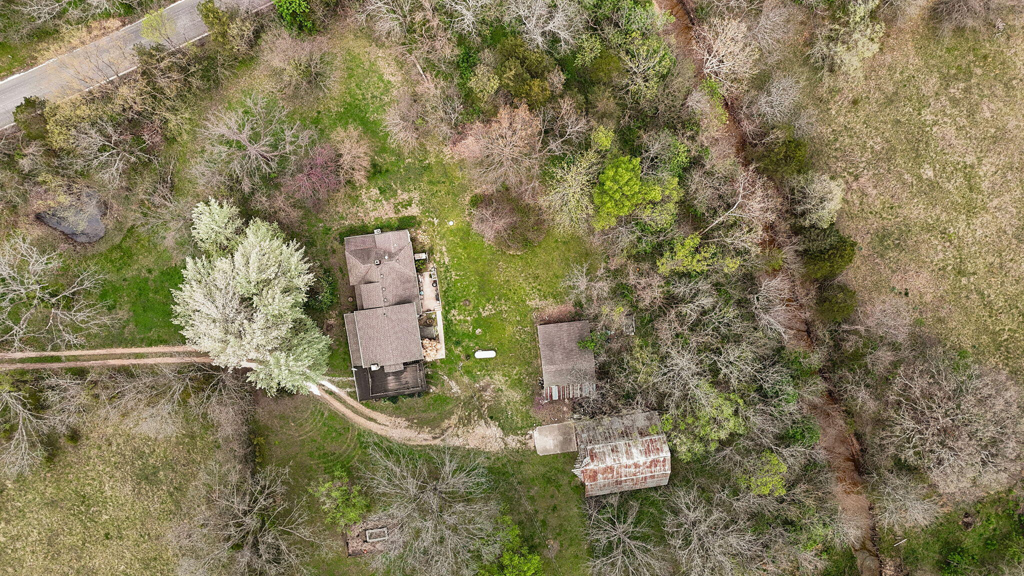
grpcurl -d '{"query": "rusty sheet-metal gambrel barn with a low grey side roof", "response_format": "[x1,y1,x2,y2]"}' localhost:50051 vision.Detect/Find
[571,410,671,497]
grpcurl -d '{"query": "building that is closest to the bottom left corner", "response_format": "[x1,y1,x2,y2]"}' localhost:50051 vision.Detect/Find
[343,229,427,401]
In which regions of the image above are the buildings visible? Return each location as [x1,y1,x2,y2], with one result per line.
[537,320,596,402]
[343,229,427,401]
[571,410,671,497]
